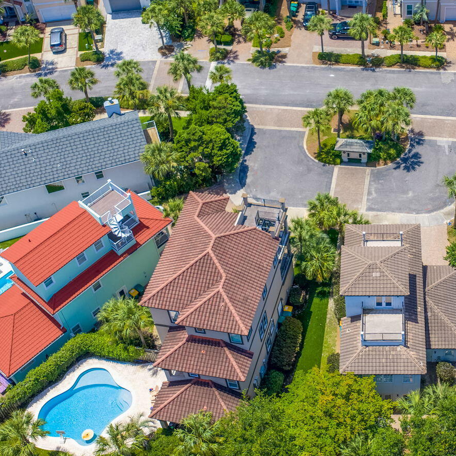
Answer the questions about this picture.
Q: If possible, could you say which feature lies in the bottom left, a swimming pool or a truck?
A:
swimming pool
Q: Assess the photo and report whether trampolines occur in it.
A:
No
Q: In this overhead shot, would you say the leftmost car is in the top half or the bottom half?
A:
top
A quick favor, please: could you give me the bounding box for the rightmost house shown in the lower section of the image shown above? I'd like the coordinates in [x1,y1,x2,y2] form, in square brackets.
[338,222,456,399]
